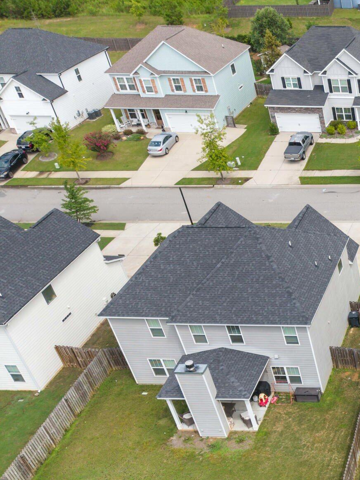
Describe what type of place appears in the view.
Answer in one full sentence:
It's a residential area.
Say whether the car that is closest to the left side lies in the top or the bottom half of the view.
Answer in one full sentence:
You can find the car that is closest to the left side in the top half.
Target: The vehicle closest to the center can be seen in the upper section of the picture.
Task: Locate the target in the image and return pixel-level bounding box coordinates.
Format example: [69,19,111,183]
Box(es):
[150,135,176,152]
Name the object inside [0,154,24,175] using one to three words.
car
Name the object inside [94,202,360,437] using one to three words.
house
